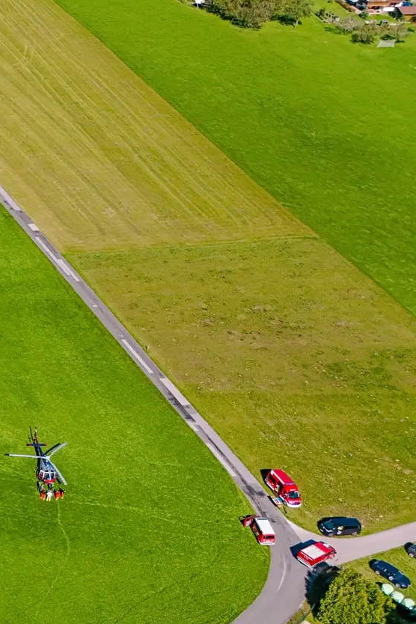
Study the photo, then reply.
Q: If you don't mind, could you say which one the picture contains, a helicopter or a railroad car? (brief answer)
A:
helicopter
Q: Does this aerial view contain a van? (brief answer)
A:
Yes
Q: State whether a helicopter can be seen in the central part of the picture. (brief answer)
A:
No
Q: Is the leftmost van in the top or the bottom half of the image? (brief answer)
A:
bottom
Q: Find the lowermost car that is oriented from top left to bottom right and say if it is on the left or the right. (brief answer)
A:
right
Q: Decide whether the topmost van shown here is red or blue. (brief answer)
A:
red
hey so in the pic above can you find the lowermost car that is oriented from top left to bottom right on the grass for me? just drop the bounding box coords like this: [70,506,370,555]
[371,557,412,588]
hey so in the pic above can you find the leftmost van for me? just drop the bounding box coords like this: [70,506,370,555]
[238,513,279,550]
